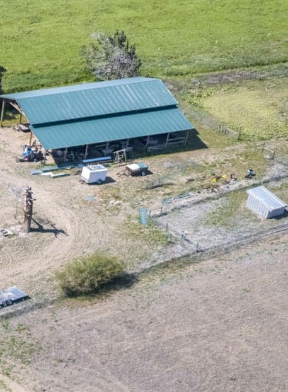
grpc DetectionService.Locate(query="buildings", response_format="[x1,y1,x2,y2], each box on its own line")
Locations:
[2,75,195,161]
[248,184,288,219]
